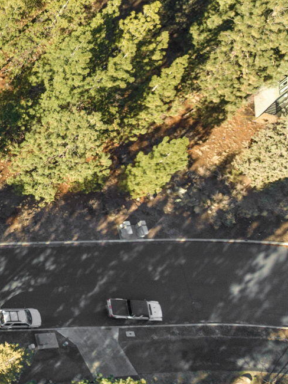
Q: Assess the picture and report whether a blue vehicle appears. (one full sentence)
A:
No, no blue vehicle is visible in the scene.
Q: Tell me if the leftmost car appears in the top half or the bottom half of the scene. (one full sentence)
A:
It is in the bottom half that the leftmost car appears.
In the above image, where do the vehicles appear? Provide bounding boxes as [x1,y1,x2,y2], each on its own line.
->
[107,300,168,324]
[0,307,46,331]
